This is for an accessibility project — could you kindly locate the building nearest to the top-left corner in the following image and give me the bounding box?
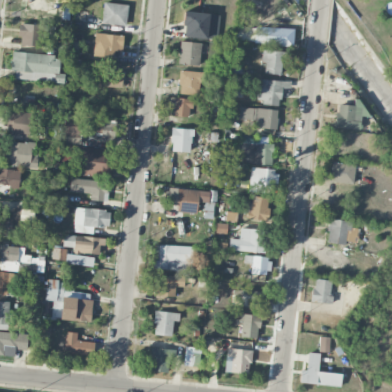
[19,22,34,46]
